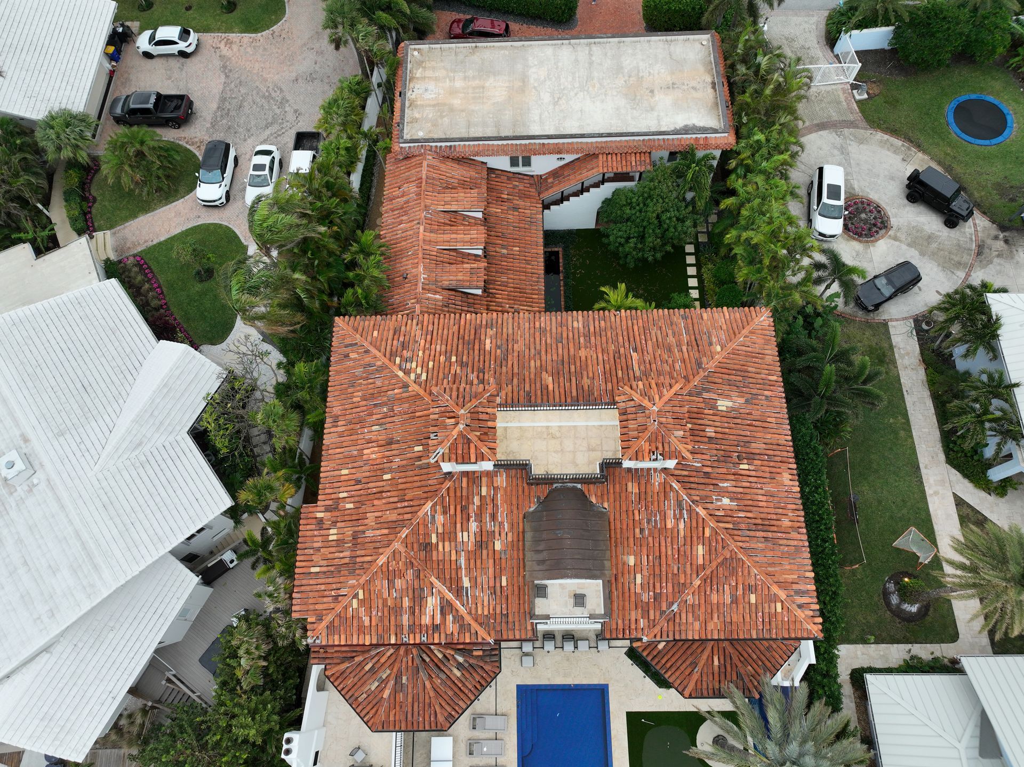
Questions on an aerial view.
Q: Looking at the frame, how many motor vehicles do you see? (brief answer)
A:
9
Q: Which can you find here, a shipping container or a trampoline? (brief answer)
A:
trampoline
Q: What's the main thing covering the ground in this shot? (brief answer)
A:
buildings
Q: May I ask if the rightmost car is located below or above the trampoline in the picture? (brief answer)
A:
below it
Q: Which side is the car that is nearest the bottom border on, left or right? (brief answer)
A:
right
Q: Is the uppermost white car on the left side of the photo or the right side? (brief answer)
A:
left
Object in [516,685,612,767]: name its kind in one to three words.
swimming pool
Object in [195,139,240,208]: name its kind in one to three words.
car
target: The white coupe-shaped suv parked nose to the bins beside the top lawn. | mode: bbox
[135,28,203,64]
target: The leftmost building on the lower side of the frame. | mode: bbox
[0,235,244,764]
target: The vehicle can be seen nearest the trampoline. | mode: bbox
[901,165,977,230]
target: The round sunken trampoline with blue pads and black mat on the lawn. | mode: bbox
[944,91,1017,147]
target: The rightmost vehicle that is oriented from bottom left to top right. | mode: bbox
[851,254,932,318]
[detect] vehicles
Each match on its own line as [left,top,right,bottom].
[808,159,851,243]
[281,132,324,198]
[244,146,286,212]
[195,139,240,208]
[851,254,932,318]
[901,165,977,230]
[110,91,194,129]
[448,14,513,39]
[135,28,203,64]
